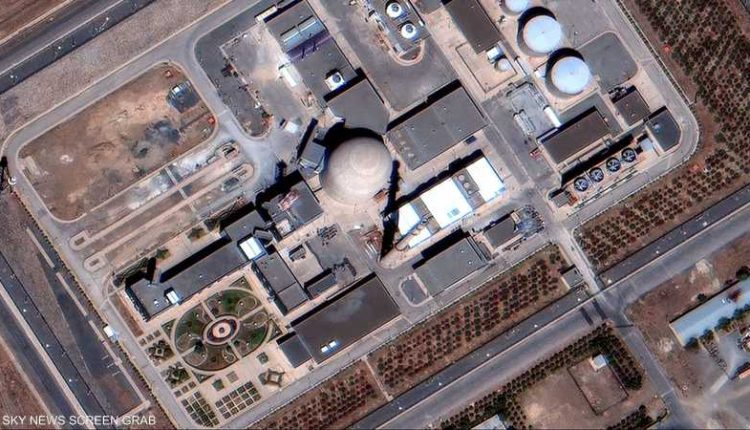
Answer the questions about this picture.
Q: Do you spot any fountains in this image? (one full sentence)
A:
Yes, the frame does contain a fountain.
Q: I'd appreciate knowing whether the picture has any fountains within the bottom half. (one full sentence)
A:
Yes, there is a fountain within the bottom half.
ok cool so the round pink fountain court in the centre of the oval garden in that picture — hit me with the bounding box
[206,317,236,343]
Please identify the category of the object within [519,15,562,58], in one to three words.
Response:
storage tank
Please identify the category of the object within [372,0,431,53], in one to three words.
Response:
house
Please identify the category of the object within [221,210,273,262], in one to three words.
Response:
building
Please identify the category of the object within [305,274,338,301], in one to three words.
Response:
shed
